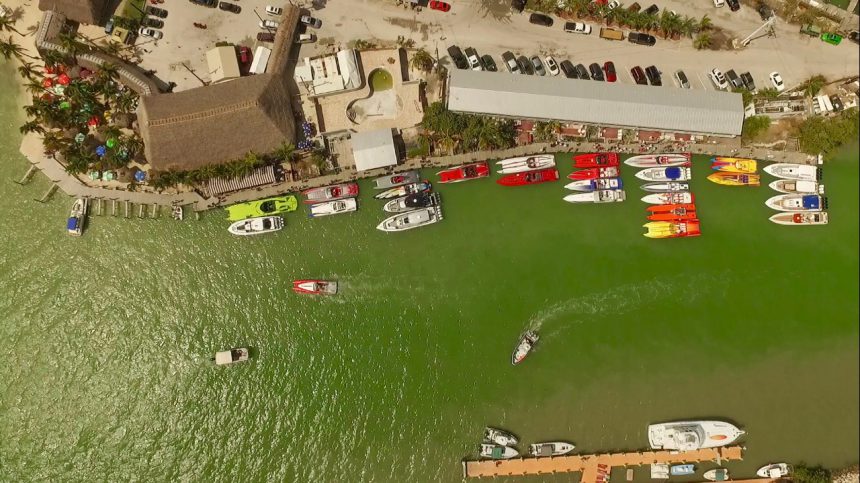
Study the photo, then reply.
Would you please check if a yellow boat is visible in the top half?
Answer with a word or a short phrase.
Yes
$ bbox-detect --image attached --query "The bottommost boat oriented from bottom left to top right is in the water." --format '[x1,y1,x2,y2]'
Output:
[512,332,538,365]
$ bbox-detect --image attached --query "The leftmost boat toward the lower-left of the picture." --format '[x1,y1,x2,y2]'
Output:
[208,349,249,365]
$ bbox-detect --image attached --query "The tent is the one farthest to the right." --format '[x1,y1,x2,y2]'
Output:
[338,48,363,92]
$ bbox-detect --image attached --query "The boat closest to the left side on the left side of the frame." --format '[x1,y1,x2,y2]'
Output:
[64,199,86,234]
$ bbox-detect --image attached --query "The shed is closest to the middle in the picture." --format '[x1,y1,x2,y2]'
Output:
[352,129,397,173]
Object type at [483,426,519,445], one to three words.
boat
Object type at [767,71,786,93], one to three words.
car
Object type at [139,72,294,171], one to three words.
shed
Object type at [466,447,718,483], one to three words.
pier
